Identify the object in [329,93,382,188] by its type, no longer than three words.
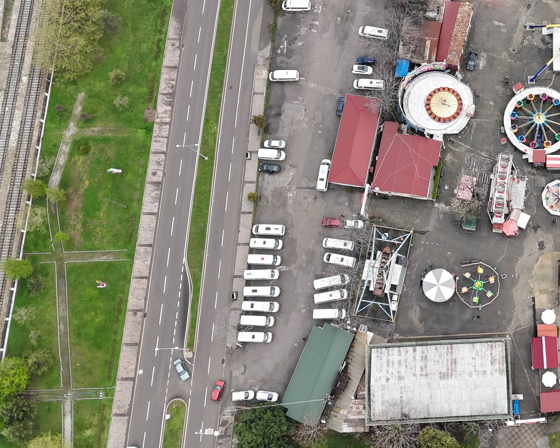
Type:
building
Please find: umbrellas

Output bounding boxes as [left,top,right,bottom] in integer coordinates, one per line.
[542,371,557,387]
[502,219,519,235]
[541,309,557,324]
